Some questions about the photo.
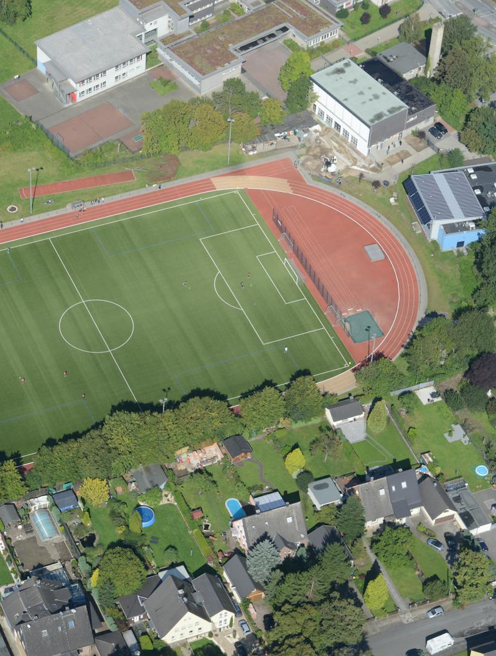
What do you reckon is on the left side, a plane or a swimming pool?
swimming pool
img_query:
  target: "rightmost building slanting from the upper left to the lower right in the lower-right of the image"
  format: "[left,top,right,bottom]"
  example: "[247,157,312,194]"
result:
[443,477,493,538]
